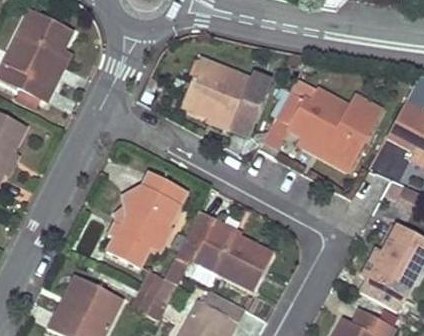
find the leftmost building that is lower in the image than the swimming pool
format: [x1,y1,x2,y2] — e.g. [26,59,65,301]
[46,275,126,336]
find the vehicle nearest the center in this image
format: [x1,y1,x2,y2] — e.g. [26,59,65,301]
[222,156,242,171]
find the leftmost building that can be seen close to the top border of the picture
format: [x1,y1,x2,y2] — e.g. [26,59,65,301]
[0,10,76,104]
